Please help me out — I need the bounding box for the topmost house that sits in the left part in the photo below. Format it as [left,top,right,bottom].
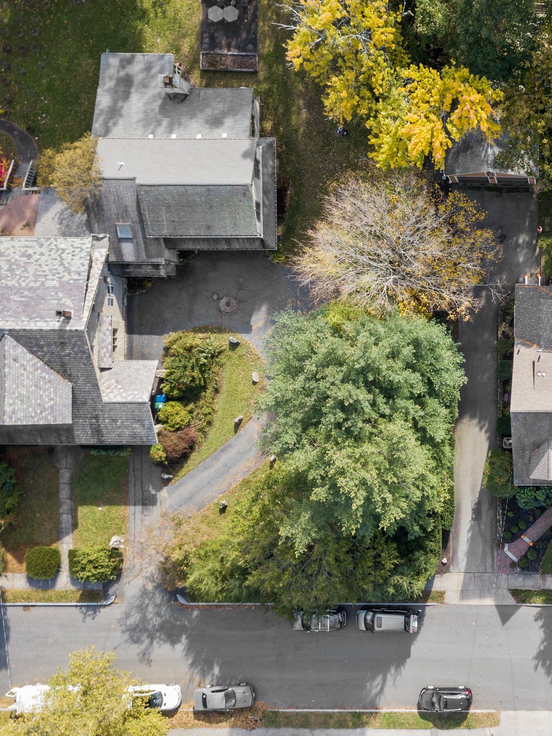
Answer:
[89,52,285,278]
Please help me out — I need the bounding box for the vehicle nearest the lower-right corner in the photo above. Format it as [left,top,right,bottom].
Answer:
[418,686,473,717]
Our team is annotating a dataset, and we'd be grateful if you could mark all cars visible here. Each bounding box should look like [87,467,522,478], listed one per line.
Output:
[290,606,349,636]
[121,684,184,715]
[191,682,257,715]
[355,606,418,637]
[418,686,473,717]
